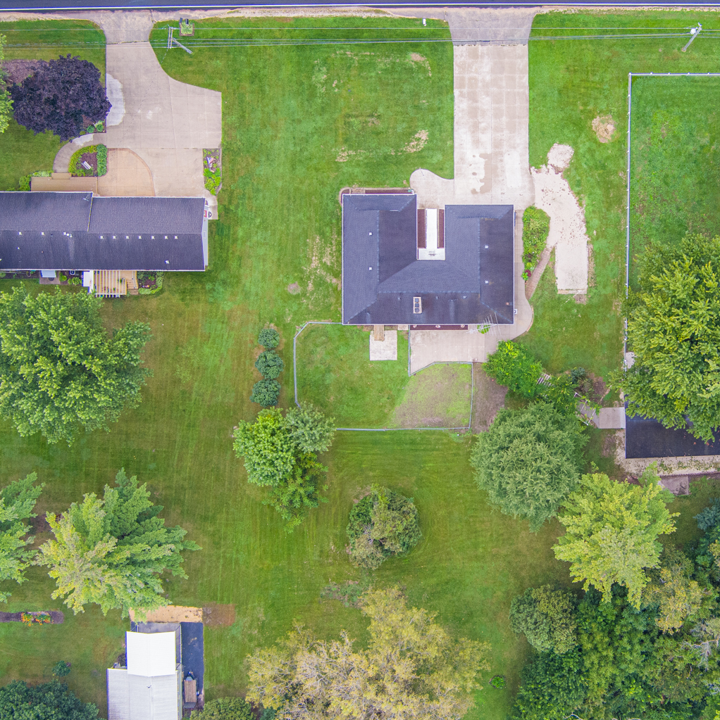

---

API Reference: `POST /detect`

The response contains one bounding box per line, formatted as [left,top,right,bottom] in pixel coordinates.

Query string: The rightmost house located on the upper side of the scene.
[342,194,515,325]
